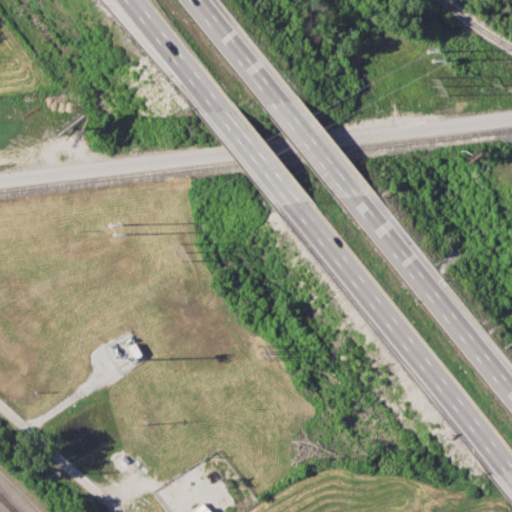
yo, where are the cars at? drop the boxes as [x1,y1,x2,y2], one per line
[332,238,342,248]
[192,0,200,7]
[166,43,176,54]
